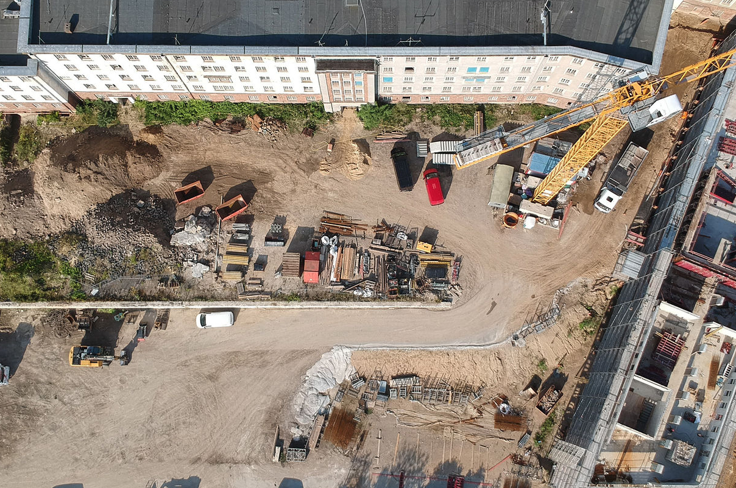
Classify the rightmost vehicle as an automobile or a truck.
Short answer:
truck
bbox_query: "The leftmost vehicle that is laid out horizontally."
[67,345,134,366]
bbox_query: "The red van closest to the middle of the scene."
[420,170,449,209]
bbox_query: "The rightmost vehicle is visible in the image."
[597,142,646,213]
